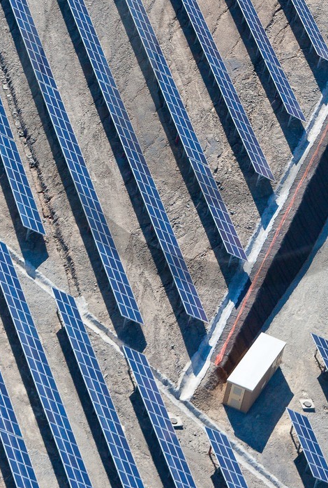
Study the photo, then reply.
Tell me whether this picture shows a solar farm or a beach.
solar farm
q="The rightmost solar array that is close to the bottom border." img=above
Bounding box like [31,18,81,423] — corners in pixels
[287,407,328,488]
